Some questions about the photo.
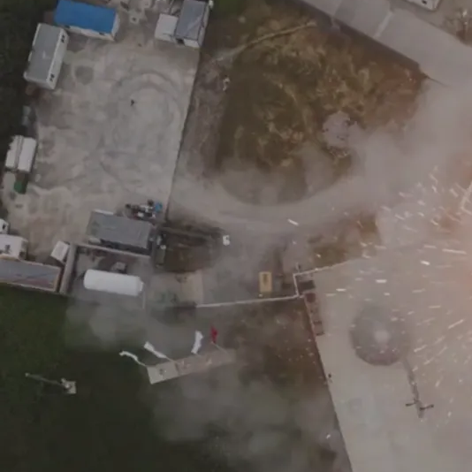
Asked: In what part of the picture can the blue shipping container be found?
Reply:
top left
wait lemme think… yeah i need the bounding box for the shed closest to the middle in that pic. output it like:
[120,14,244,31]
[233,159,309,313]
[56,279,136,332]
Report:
[86,210,156,254]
